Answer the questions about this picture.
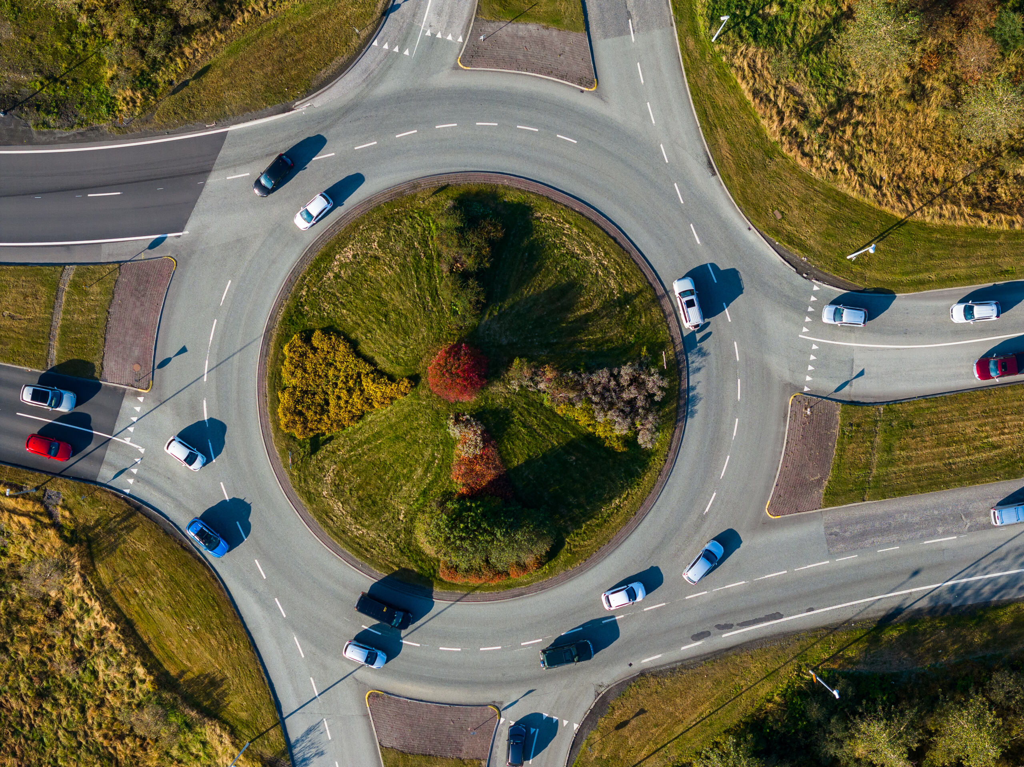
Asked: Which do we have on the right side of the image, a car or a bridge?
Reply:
car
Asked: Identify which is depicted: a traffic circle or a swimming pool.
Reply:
traffic circle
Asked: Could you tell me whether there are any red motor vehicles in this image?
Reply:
Yes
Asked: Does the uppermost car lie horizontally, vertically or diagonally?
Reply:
diagonally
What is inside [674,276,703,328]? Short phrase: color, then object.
white car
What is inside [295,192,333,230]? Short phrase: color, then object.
white car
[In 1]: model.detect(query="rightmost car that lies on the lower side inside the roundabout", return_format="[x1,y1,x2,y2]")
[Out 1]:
[683,540,723,584]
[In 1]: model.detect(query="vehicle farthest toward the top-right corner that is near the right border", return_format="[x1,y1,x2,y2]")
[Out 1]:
[948,301,1001,324]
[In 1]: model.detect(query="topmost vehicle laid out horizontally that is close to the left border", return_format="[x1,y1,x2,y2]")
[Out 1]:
[20,385,77,412]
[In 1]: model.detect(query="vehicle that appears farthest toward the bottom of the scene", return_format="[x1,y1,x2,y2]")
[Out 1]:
[505,724,527,767]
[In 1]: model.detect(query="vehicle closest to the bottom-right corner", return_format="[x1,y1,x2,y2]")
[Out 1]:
[988,502,1024,526]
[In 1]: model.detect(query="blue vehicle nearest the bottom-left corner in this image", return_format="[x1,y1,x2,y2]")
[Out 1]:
[186,518,230,558]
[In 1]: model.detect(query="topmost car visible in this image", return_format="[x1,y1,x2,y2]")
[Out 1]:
[255,155,293,196]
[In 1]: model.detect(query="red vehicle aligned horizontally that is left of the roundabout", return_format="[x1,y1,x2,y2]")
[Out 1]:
[25,434,73,461]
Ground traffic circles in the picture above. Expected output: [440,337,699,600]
[158,74,784,700]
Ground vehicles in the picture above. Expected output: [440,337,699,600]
[948,301,1001,324]
[354,592,414,633]
[683,540,723,584]
[343,641,386,670]
[164,436,207,471]
[602,582,646,610]
[971,353,1024,380]
[541,641,594,669]
[821,303,869,327]
[295,192,333,230]
[988,502,1024,526]
[505,724,527,767]
[20,385,77,412]
[255,155,293,196]
[674,276,703,328]
[186,518,230,558]
[25,434,73,461]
